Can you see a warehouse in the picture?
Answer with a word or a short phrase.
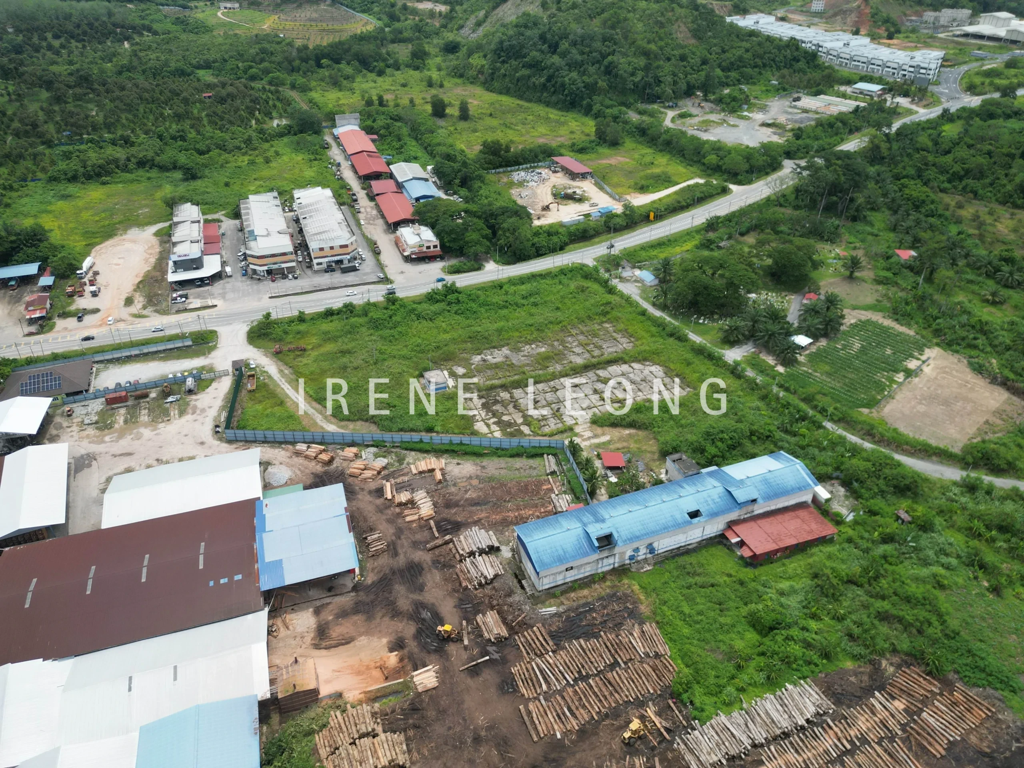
Yes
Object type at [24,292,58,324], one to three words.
building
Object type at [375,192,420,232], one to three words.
shed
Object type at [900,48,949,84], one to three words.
building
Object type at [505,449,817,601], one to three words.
warehouse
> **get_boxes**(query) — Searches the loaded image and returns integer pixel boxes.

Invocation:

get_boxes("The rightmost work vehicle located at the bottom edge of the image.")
[620,714,656,744]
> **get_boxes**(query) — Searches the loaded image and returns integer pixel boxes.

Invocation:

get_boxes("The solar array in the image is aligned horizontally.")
[20,374,63,396]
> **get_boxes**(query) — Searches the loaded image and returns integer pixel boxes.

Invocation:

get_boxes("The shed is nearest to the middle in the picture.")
[423,369,449,394]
